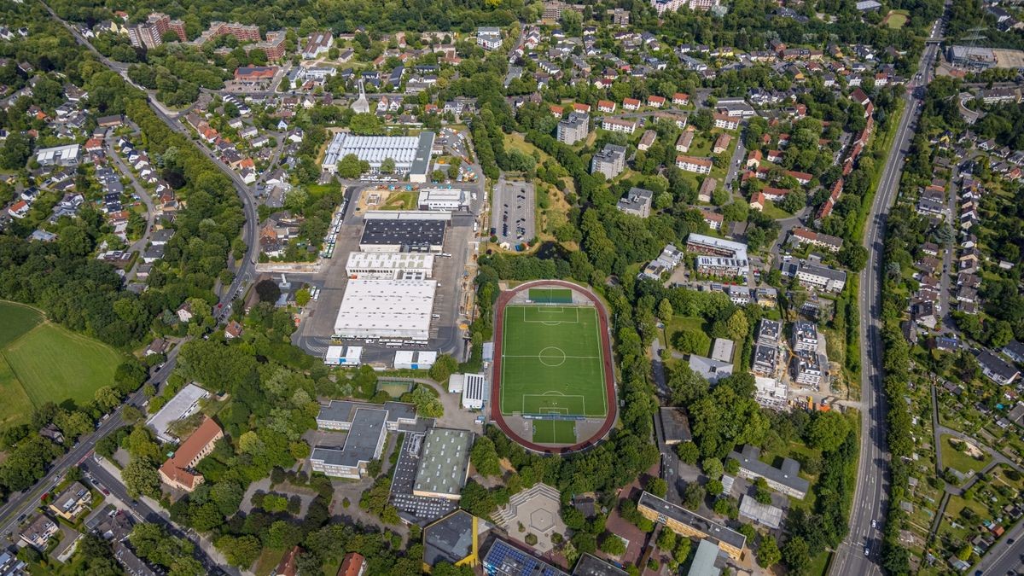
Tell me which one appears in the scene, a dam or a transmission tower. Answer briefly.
transmission tower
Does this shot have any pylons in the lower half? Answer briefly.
No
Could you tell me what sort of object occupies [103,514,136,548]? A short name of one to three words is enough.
house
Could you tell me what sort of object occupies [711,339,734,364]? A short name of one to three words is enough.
building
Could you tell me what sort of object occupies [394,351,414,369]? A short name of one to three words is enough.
shed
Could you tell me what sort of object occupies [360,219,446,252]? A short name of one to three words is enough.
building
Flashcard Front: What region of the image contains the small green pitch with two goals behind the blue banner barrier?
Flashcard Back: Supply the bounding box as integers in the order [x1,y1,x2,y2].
[533,420,577,443]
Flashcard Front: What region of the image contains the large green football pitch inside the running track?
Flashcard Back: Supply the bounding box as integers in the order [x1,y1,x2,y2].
[500,301,608,419]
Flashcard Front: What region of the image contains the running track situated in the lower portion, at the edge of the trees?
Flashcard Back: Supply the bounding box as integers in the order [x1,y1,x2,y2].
[489,278,619,456]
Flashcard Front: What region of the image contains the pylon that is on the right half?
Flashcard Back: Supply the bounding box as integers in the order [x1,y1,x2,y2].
[971,13,998,55]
